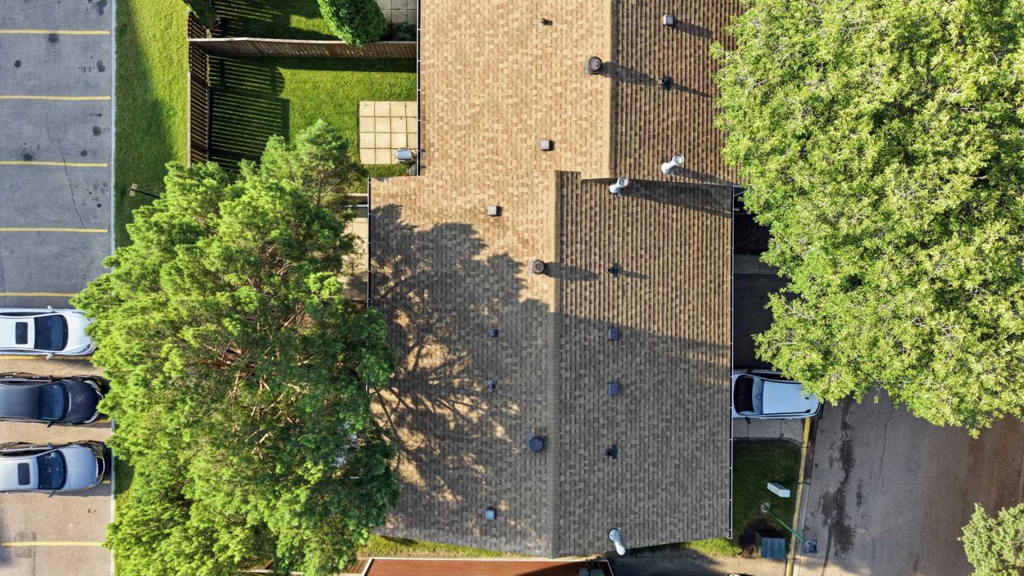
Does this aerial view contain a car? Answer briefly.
Yes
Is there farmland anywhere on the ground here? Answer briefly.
No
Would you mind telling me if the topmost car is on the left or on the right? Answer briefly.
left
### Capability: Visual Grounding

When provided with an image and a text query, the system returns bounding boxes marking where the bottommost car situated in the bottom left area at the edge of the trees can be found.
[0,440,108,501]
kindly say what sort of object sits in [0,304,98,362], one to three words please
car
